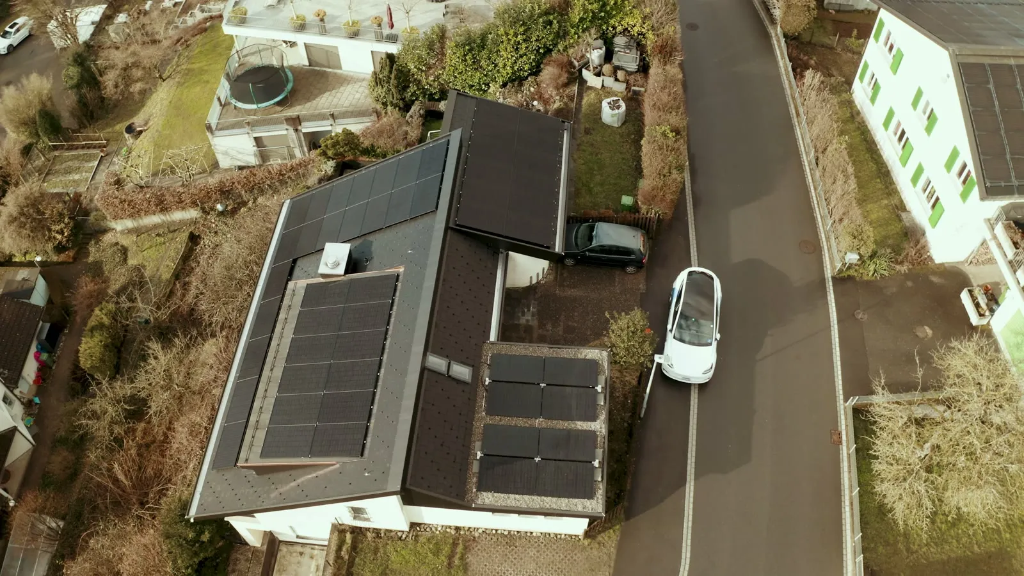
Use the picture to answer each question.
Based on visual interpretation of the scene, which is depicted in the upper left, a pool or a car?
car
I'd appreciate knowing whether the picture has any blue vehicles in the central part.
No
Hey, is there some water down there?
No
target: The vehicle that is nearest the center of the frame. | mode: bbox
[549,224,648,277]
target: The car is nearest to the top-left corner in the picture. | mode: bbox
[0,17,35,58]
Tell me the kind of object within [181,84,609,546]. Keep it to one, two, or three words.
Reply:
house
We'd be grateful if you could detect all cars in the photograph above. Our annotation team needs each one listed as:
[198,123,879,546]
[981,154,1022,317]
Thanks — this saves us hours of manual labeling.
[549,224,648,277]
[0,17,35,58]
[660,269,722,386]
